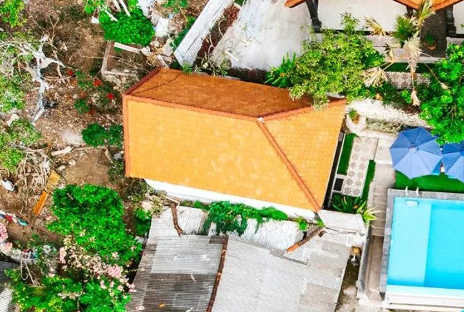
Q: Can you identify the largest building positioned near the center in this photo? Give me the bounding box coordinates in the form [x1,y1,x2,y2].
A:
[123,65,354,225]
